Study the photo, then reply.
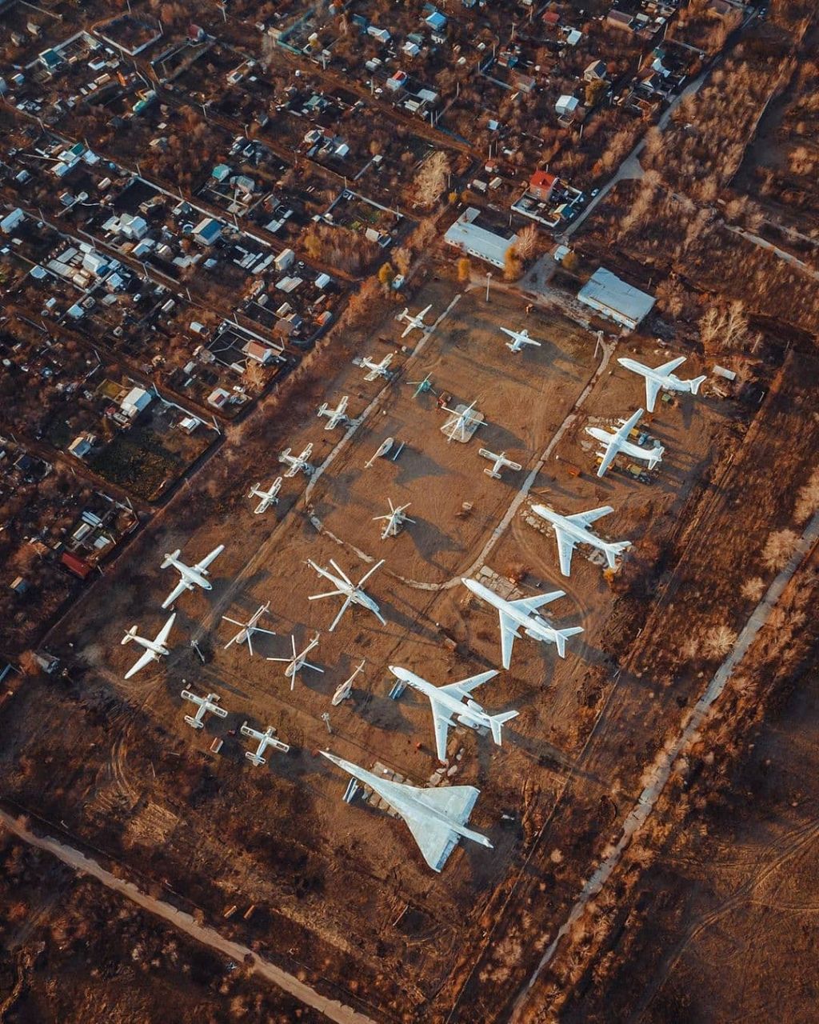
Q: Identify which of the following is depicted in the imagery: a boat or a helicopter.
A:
helicopter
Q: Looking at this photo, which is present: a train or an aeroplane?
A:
aeroplane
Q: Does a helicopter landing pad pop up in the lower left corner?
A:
No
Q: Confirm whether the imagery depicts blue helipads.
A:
No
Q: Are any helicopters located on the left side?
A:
Yes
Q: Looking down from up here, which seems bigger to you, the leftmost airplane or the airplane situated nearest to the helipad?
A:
the leftmost airplane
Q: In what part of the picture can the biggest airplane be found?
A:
bottom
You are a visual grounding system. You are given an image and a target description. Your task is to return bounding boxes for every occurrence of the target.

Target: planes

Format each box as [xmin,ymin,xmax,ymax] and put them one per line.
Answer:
[158,543,219,604]
[358,352,391,380]
[247,478,282,513]
[479,449,522,479]
[276,442,309,476]
[461,578,580,667]
[586,408,669,477]
[532,506,632,575]
[388,666,516,761]
[317,395,348,428]
[241,726,290,765]
[277,444,310,478]
[318,749,494,871]
[396,305,425,337]
[120,609,170,673]
[618,359,704,411]
[181,694,230,730]
[497,330,543,352]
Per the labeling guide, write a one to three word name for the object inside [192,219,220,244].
house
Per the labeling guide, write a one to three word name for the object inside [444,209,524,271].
building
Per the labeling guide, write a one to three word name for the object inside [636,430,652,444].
vehicle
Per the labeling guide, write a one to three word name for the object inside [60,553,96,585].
barn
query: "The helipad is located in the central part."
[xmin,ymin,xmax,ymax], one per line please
[441,404,484,443]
